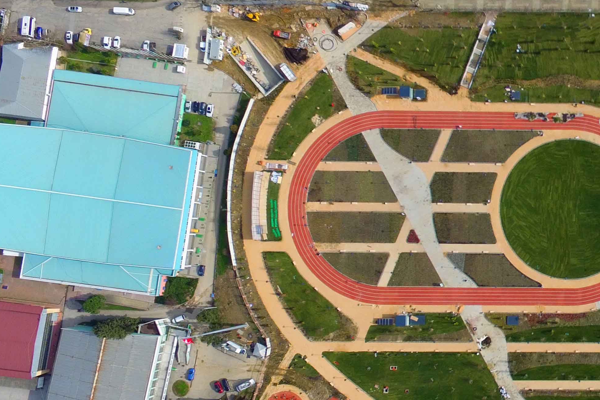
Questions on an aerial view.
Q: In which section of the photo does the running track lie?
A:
right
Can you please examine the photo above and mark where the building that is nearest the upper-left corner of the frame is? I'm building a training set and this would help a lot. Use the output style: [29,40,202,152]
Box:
[0,43,74,122]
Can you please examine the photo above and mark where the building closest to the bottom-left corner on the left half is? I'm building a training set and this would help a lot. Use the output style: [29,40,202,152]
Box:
[0,296,66,381]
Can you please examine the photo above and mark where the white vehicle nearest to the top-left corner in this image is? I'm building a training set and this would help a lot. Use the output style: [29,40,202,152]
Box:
[17,14,31,36]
